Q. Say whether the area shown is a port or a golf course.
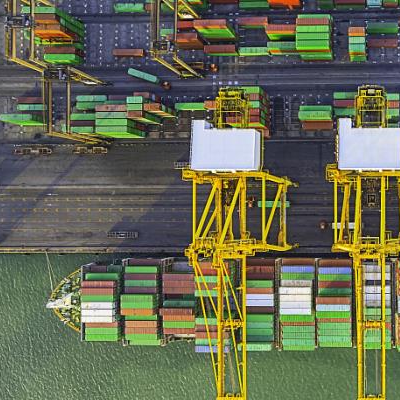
port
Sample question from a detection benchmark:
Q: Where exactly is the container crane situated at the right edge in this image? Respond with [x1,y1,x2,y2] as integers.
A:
[319,82,400,400]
